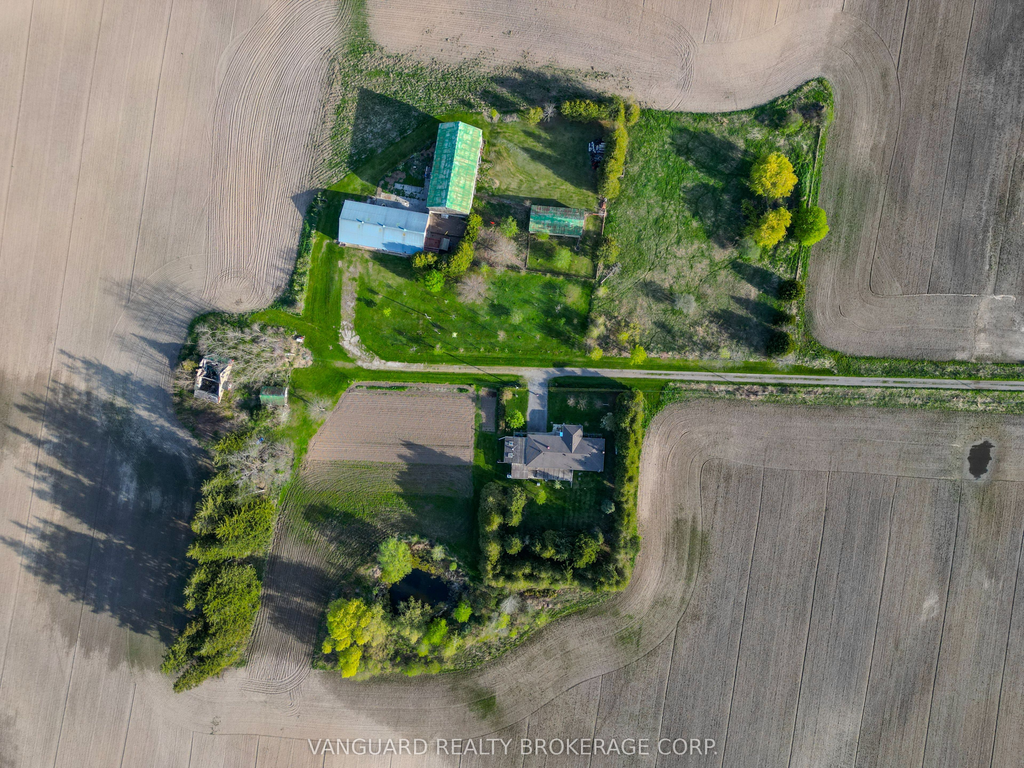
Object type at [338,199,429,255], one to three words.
shed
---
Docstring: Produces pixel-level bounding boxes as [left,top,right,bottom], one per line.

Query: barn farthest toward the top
[426,121,483,217]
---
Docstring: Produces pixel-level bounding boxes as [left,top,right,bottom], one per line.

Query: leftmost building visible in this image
[194,353,233,404]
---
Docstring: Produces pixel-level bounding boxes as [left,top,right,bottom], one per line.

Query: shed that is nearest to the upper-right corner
[529,205,584,237]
